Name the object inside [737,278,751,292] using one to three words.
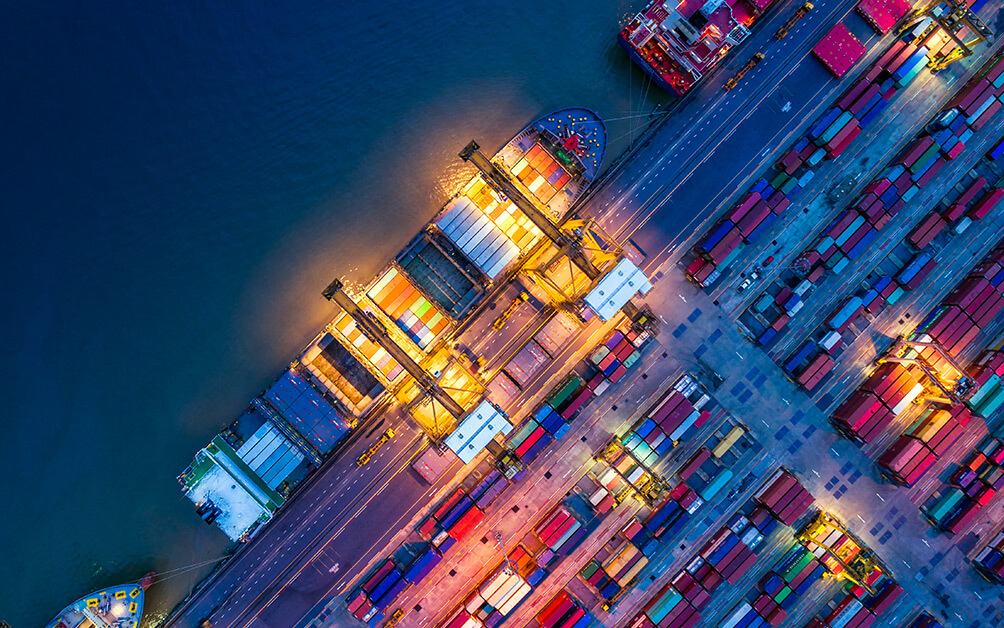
vehicle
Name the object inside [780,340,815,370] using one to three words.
shipping container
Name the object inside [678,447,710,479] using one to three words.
shipping container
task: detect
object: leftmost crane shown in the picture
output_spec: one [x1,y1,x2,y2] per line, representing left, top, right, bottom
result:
[319,277,532,485]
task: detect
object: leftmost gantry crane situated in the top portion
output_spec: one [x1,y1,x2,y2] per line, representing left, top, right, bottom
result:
[454,139,666,350]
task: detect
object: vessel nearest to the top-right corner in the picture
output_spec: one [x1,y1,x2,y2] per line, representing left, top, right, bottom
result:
[619,0,775,96]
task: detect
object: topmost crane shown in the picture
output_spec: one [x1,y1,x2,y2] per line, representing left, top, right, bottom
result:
[887,0,993,69]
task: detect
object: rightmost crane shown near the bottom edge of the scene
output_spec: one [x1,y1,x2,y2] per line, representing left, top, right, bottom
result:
[795,511,898,597]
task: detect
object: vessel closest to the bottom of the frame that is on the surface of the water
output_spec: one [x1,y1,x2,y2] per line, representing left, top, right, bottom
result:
[44,572,157,628]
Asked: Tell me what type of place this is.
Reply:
port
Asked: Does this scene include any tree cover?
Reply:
No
